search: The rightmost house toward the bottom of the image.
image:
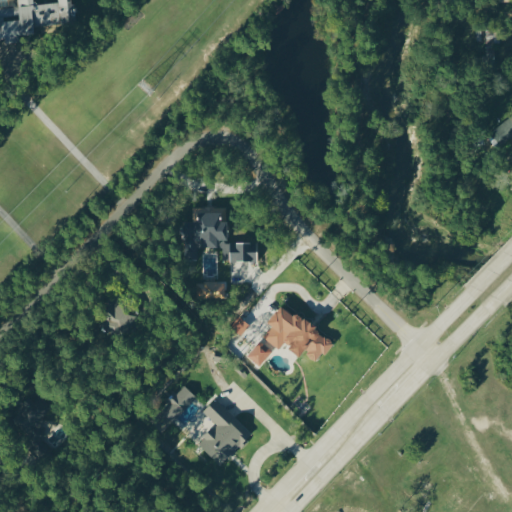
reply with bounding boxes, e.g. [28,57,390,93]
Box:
[264,308,333,362]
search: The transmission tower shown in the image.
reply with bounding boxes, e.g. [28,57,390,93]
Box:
[139,79,154,96]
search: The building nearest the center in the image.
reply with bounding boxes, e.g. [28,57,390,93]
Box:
[230,242,258,262]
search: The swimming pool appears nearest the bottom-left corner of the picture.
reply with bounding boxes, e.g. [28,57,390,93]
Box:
[50,424,67,446]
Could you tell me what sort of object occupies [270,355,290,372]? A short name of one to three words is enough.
swimming pool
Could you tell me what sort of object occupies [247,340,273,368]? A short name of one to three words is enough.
building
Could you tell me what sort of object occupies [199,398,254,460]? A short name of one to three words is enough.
house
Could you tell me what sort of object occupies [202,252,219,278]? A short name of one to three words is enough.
swimming pool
